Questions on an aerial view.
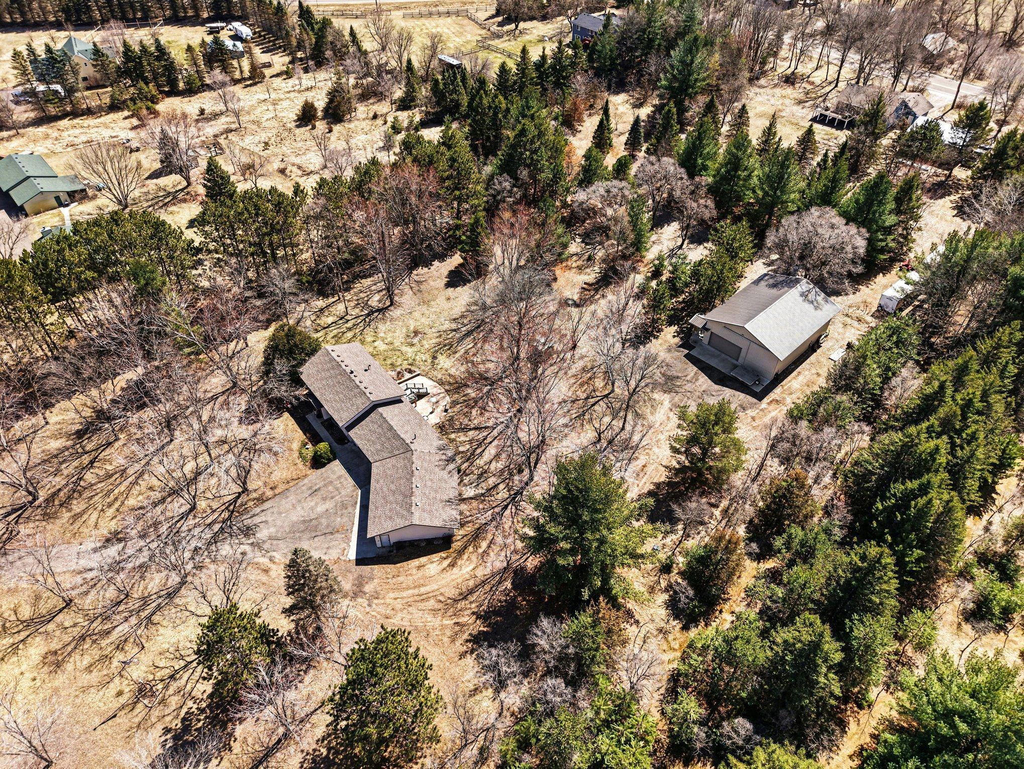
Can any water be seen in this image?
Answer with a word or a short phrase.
No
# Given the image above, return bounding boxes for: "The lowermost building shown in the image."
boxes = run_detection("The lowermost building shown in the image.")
[299,342,460,546]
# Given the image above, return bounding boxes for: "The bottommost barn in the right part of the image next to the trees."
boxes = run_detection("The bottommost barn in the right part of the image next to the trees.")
[687,273,842,381]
